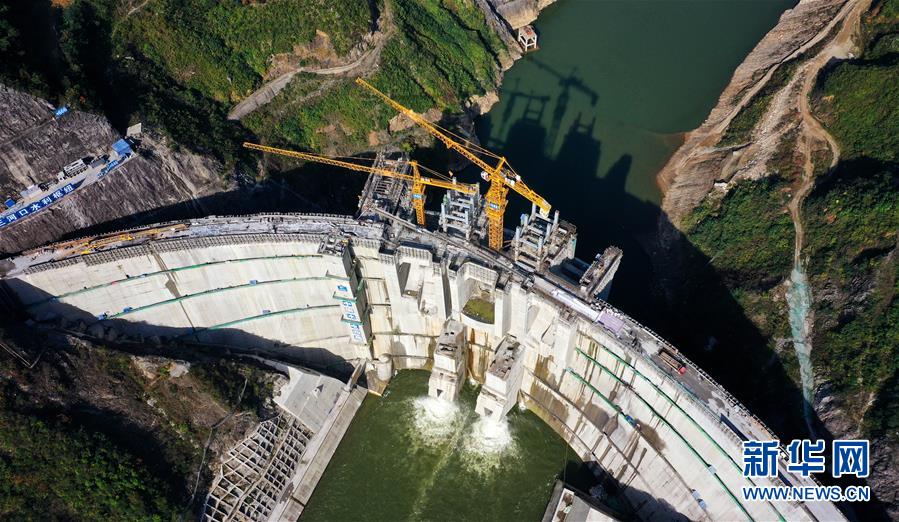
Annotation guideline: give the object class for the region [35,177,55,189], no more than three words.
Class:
vehicle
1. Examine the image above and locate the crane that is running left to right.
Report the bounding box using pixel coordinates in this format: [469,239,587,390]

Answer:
[242,145,478,229]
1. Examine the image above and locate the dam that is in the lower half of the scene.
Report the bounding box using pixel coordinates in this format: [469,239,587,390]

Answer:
[0,209,859,522]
